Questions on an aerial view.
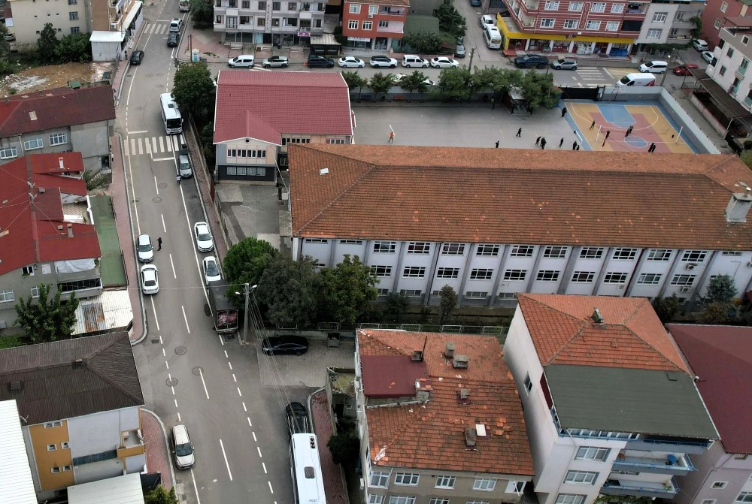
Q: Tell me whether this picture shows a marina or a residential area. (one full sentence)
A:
This looks like a residential area.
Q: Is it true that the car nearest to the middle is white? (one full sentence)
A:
No, the car nearest to the middle is actually black.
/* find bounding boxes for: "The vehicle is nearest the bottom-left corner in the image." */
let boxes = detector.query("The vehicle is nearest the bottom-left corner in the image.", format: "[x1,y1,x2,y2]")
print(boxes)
[171,423,196,470]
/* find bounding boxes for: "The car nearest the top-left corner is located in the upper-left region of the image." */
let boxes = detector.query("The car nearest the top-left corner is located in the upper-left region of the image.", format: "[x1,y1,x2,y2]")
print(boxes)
[131,49,145,63]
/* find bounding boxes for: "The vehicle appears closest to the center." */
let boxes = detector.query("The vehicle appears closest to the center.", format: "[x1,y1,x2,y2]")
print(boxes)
[263,335,309,357]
